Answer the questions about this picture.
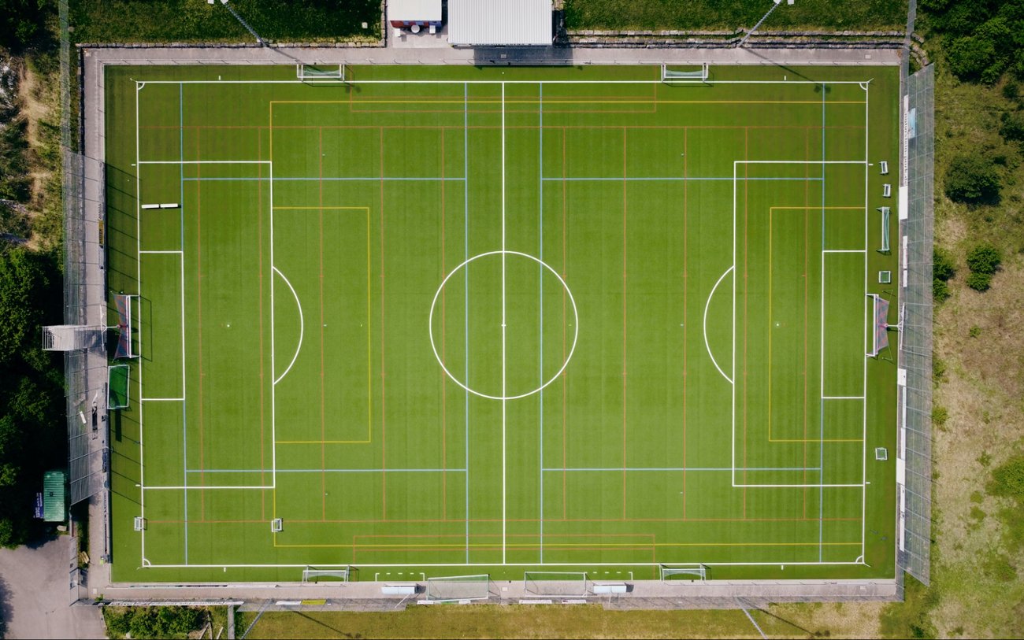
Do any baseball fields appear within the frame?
No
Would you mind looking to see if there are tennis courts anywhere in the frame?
No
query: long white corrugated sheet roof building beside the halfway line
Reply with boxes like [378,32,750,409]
[448,0,553,48]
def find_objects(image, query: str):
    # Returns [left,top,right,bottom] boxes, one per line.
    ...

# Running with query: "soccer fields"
[104,65,899,583]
